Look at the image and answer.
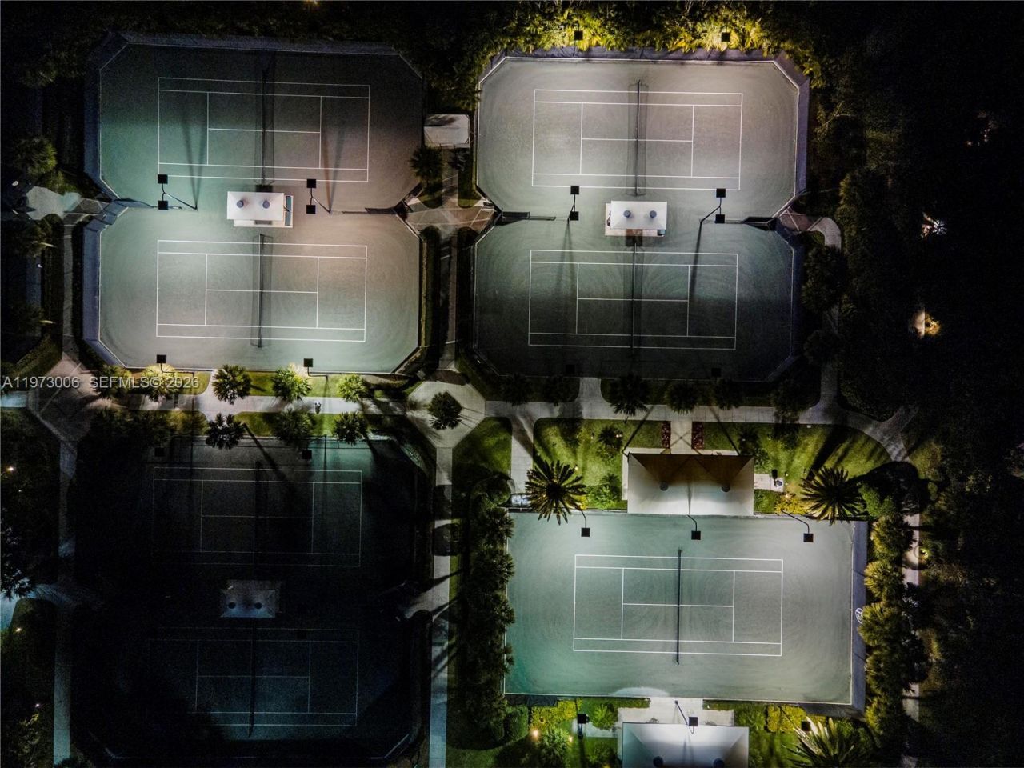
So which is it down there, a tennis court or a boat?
tennis court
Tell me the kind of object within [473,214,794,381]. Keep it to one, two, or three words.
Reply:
tennis court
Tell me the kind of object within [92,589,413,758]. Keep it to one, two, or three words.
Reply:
tennis court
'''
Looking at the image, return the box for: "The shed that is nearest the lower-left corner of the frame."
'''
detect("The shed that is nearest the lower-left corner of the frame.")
[221,576,294,616]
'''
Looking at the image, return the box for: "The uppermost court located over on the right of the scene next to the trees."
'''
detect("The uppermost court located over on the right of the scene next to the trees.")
[476,57,799,217]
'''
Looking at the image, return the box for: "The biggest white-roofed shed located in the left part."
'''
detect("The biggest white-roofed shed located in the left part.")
[226,191,303,231]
